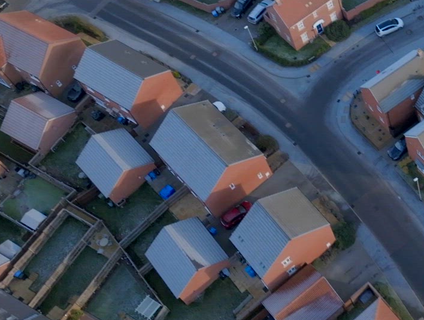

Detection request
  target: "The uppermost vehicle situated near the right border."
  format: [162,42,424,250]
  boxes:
[374,16,405,36]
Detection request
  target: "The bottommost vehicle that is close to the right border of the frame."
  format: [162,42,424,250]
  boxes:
[384,135,409,163]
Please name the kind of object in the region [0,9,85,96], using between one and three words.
house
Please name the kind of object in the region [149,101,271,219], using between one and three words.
house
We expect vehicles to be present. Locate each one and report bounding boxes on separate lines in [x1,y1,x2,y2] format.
[64,79,85,105]
[247,0,274,23]
[231,0,256,17]
[374,16,405,36]
[221,200,251,229]
[384,135,409,163]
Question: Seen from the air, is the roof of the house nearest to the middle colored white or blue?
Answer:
blue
